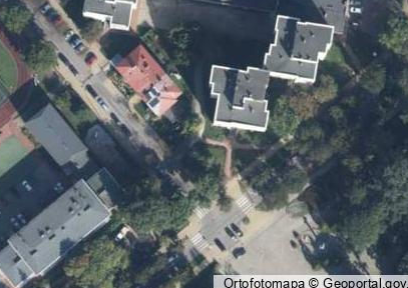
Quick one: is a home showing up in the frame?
Yes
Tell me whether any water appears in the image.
No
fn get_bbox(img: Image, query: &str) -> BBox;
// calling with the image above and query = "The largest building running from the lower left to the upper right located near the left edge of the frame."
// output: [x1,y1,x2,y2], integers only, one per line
[8,180,111,276]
